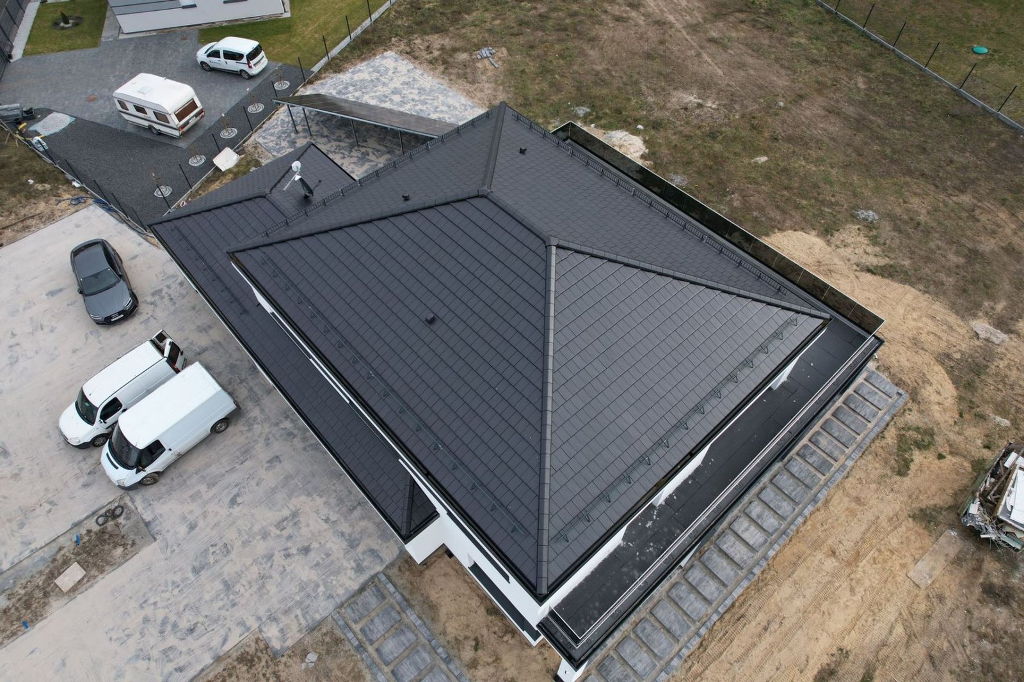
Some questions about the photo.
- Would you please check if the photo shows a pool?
No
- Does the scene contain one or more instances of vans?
Yes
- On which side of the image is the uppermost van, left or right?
left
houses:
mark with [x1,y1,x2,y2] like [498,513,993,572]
[106,0,289,32]
[149,99,884,673]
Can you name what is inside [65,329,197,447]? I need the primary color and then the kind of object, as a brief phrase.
white van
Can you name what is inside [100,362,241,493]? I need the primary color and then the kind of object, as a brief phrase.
white van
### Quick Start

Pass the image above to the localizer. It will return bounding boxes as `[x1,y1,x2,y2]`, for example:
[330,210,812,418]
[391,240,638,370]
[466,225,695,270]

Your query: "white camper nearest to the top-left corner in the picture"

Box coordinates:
[106,69,205,137]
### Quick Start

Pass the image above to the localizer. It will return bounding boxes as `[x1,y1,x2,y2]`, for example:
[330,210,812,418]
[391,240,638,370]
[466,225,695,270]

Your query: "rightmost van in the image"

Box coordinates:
[196,34,270,81]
